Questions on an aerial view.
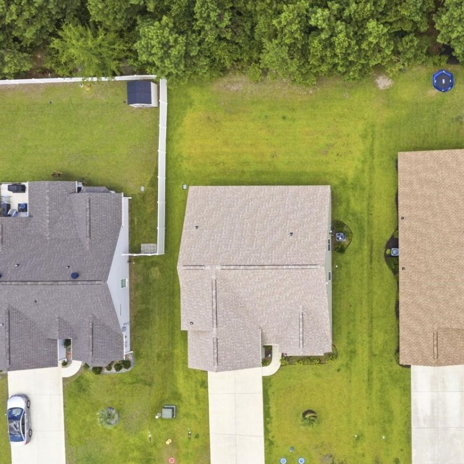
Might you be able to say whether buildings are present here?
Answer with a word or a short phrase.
Yes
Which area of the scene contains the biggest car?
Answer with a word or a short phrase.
bottom left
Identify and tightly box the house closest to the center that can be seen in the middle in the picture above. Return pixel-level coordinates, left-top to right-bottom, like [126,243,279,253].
[178,187,333,373]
